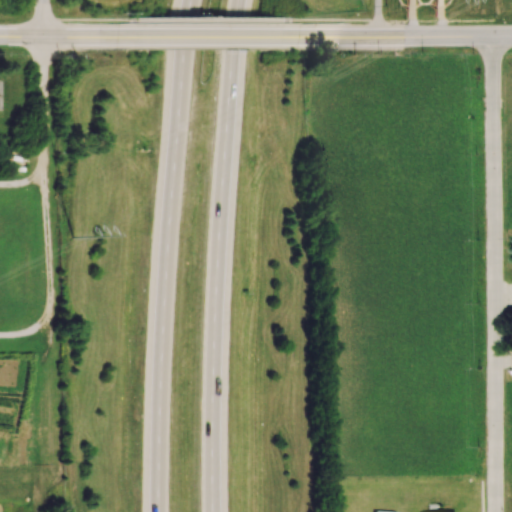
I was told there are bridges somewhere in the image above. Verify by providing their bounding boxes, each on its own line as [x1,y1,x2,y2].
[131,17,290,50]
